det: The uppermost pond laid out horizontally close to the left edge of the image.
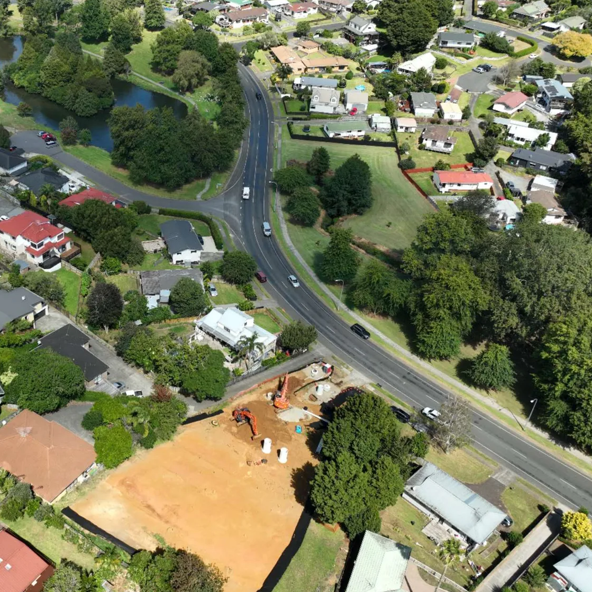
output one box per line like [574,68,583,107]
[0,34,187,152]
